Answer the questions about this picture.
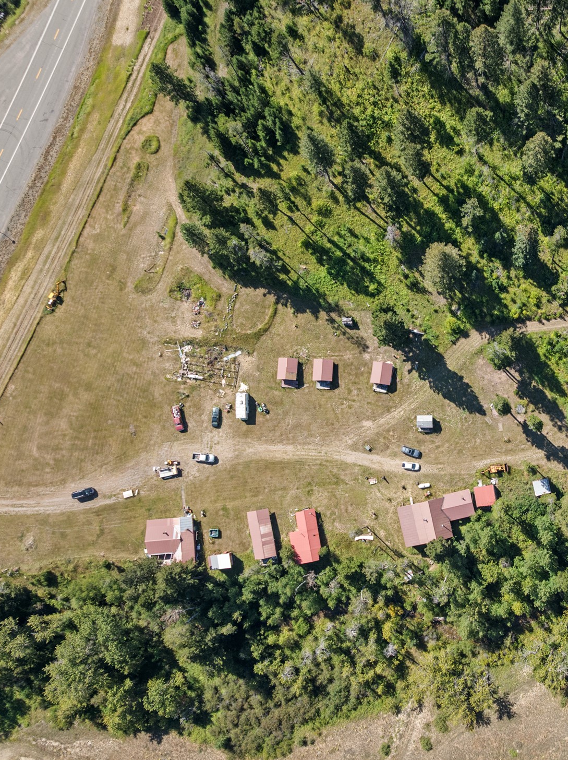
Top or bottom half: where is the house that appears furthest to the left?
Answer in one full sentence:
The bottom half of the photo is where the house that appears furthest to the left is.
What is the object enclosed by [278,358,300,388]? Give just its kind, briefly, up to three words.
building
